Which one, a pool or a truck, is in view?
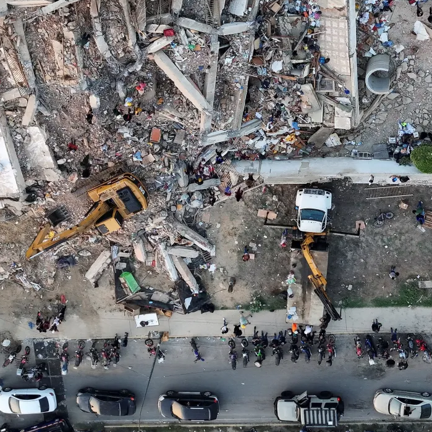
truck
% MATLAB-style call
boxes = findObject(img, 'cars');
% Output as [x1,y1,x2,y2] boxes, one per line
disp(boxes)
[0,389,59,419]
[159,393,220,424]
[373,389,432,420]
[276,387,344,430]
[78,390,138,420]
